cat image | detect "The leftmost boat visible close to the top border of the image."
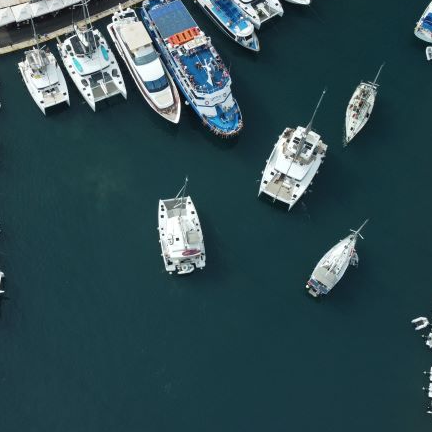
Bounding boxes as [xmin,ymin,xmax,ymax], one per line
[20,18,71,124]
